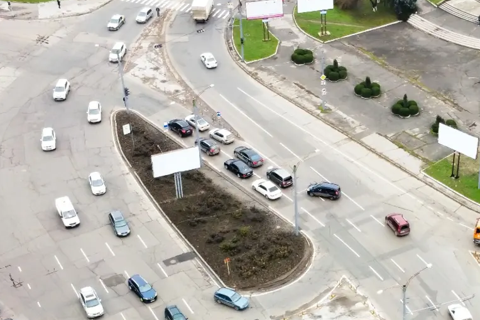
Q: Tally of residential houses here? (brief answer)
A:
zero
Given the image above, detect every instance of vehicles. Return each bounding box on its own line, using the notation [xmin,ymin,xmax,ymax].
[87,103,102,122]
[109,211,130,237]
[224,160,253,179]
[56,194,78,225]
[252,180,281,200]
[265,168,294,189]
[449,303,472,320]
[210,128,235,145]
[192,0,211,21]
[172,120,194,137]
[166,305,189,320]
[212,286,253,311]
[109,41,125,60]
[129,274,154,303]
[307,181,342,199]
[235,148,263,167]
[385,213,410,237]
[135,4,154,23]
[198,139,222,156]
[40,129,55,149]
[81,288,104,318]
[201,54,217,70]
[107,14,125,30]
[54,77,70,98]
[89,172,105,195]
